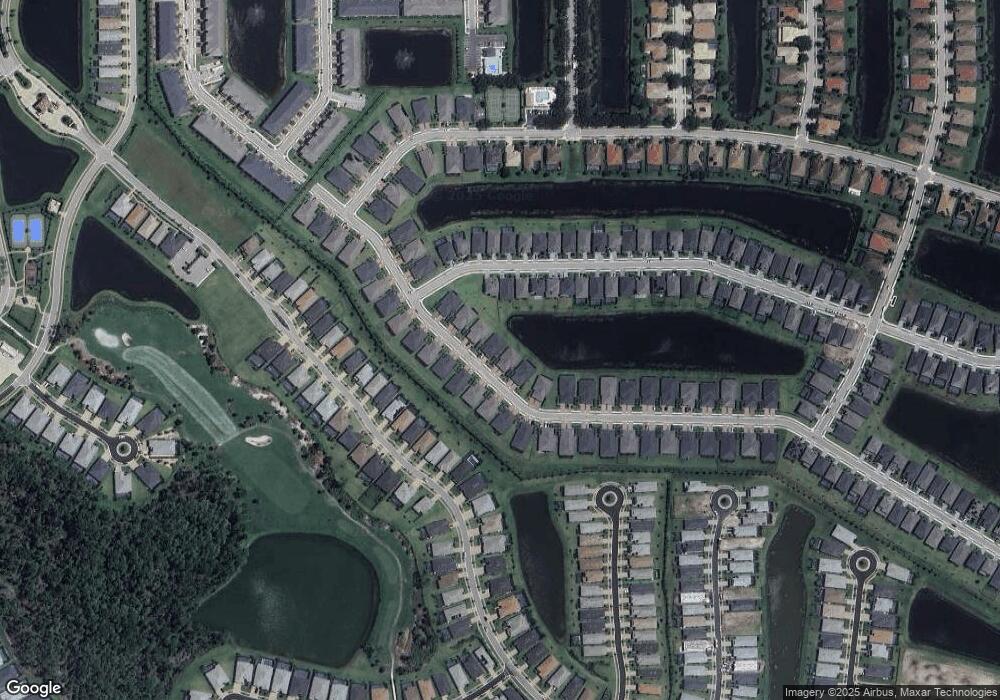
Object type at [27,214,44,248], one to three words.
tennis court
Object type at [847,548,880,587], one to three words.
roundabout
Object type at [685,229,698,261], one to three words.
house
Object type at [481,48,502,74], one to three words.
swimming pool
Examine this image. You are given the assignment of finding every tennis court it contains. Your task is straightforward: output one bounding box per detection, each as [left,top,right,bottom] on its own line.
[504,87,520,122]
[486,87,503,122]
[11,214,26,248]
[27,214,44,248]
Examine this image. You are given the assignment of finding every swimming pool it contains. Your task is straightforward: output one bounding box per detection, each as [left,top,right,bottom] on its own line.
[527,87,555,108]
[481,48,502,74]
